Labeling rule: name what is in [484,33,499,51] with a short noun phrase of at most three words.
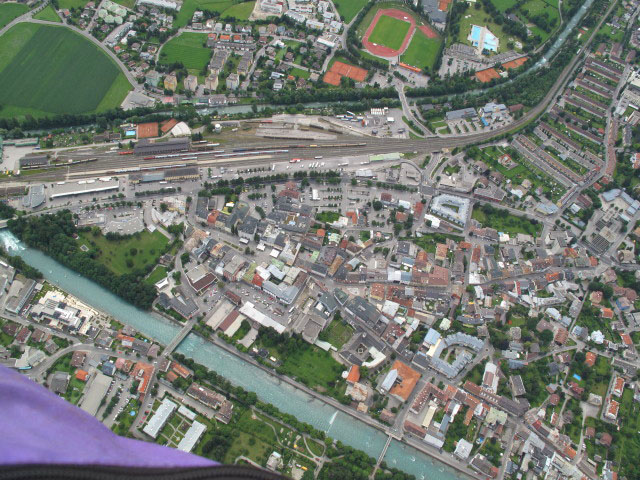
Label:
swimming pool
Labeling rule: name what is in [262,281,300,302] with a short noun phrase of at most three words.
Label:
building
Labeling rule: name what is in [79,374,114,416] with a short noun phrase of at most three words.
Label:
building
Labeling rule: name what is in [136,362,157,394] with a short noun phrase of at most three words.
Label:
house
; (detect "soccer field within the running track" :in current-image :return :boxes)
[368,15,409,50]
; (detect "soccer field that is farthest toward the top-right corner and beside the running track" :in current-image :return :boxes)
[408,30,440,64]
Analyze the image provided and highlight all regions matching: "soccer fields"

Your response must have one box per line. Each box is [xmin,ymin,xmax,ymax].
[368,15,409,50]
[408,30,440,64]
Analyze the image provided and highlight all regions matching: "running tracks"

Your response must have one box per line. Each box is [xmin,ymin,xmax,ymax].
[362,8,414,58]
